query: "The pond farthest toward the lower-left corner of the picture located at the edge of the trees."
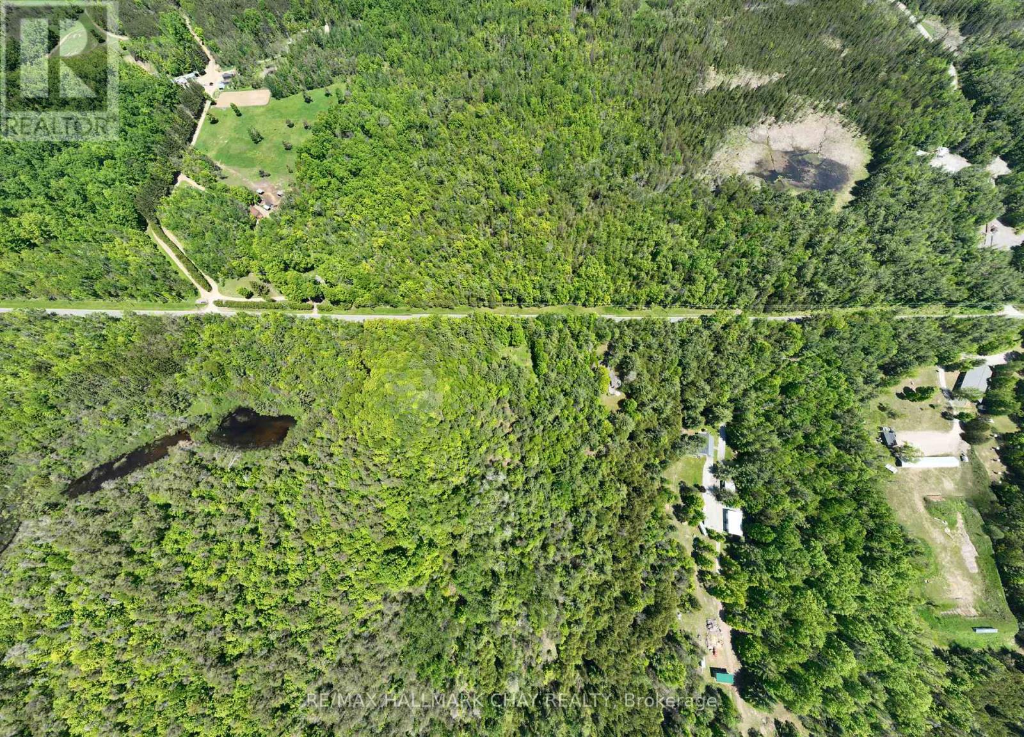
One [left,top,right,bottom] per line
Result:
[209,408,295,448]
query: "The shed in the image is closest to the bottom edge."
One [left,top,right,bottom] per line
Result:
[712,667,734,685]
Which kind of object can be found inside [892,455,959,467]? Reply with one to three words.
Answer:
barn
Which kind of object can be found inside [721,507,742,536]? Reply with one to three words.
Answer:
building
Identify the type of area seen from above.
forest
